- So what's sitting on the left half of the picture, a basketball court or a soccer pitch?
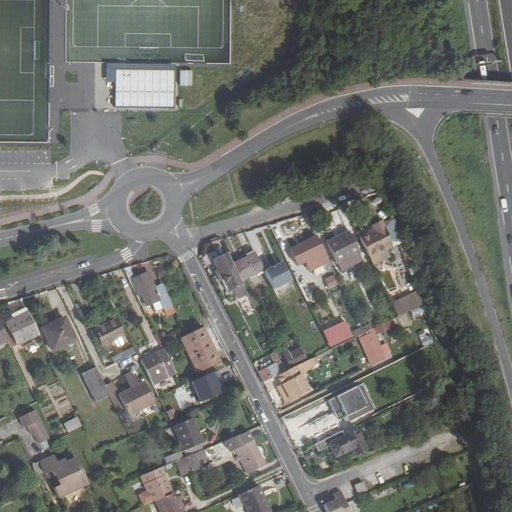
soccer pitch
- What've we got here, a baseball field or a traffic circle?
traffic circle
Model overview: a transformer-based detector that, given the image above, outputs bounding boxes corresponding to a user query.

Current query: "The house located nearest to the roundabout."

[133,257,176,316]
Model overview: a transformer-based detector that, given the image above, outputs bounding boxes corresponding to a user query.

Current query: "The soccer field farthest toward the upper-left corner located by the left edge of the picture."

[0,0,48,140]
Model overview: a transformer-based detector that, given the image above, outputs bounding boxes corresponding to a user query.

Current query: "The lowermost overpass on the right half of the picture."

[462,80,512,118]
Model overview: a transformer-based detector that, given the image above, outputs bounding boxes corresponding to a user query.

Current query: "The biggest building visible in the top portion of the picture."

[105,62,176,108]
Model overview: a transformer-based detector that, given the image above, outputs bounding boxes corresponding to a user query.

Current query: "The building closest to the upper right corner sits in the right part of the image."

[360,219,400,264]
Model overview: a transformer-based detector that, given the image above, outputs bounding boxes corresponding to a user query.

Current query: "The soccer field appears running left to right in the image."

[66,0,230,62]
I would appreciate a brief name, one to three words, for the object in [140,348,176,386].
house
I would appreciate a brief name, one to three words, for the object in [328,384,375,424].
house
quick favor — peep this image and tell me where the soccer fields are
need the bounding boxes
[0,0,48,140]
[66,0,230,62]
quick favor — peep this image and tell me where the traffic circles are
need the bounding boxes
[107,166,199,256]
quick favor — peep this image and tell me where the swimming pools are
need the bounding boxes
[382,270,397,292]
